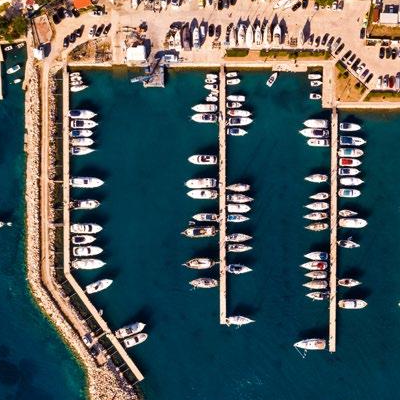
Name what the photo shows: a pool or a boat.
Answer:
boat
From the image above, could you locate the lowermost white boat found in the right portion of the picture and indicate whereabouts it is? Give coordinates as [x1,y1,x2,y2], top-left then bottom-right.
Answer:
[293,338,326,357]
